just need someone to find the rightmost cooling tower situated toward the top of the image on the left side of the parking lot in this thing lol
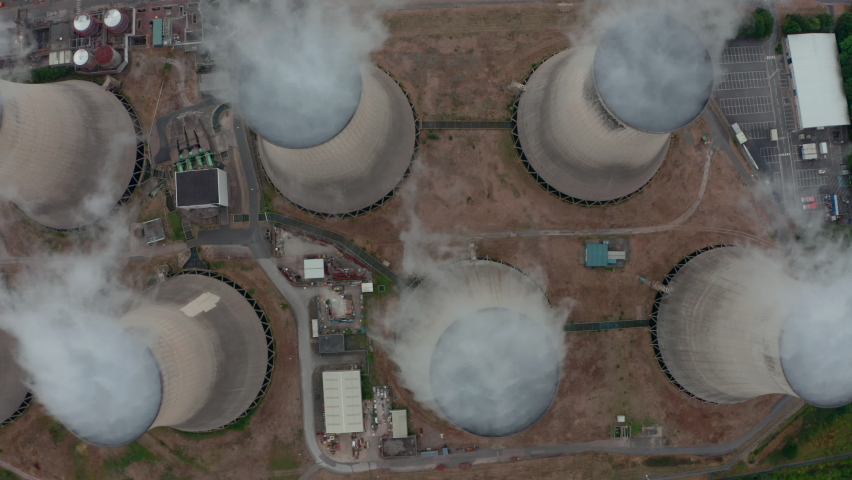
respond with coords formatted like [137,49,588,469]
[505,7,717,205]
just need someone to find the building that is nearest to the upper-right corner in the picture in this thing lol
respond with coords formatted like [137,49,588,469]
[781,32,850,134]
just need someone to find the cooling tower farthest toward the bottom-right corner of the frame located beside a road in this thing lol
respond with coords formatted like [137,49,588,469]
[637,241,852,413]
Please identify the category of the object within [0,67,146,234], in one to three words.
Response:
cooling tower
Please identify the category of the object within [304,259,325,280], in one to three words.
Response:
shed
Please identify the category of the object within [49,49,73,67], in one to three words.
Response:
building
